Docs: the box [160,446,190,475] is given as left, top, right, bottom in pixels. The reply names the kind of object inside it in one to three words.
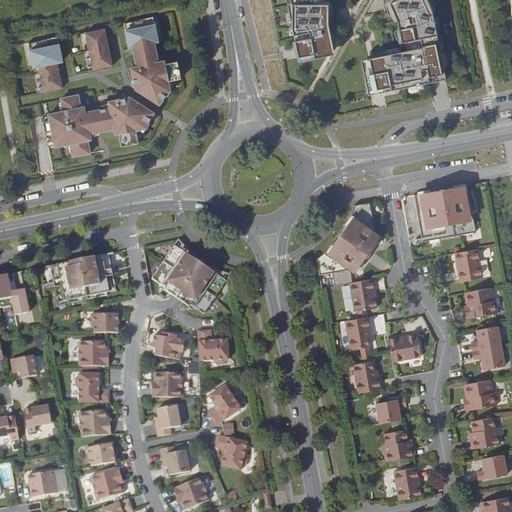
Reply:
house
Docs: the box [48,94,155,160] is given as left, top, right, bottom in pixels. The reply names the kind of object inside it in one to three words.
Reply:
house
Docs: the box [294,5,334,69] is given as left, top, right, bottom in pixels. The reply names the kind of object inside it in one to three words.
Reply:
building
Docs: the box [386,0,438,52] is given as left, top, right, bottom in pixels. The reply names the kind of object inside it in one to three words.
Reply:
building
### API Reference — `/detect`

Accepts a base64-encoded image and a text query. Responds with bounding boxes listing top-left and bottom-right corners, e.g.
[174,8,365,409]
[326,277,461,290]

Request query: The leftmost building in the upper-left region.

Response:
[29,36,64,94]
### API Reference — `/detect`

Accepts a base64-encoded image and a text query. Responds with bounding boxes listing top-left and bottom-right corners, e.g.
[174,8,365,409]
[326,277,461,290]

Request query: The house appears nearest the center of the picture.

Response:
[166,250,226,310]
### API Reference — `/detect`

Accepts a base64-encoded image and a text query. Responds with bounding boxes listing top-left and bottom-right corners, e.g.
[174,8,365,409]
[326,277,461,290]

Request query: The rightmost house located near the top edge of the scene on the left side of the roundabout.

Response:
[126,15,172,108]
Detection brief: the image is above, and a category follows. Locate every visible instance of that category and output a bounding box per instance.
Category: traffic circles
[180,66,372,278]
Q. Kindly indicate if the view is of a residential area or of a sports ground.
residential area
